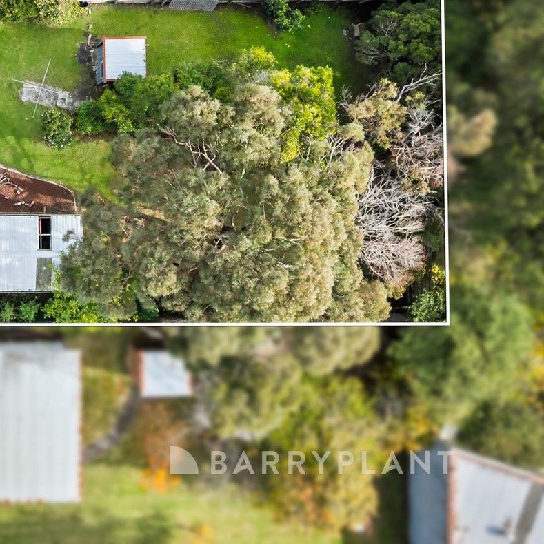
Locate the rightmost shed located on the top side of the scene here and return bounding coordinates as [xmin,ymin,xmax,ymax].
[97,36,149,85]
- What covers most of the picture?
trees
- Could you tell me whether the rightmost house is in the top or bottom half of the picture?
bottom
